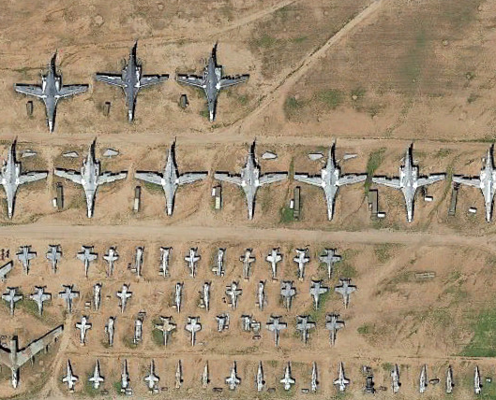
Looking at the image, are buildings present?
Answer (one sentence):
No, I can see no building in this picture.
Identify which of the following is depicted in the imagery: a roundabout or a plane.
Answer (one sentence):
It is a plane that can be seen here.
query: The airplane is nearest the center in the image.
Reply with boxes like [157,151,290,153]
[214,144,287,219]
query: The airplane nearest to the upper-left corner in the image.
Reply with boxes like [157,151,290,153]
[15,58,89,133]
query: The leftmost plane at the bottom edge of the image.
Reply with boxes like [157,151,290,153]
[0,325,62,388]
